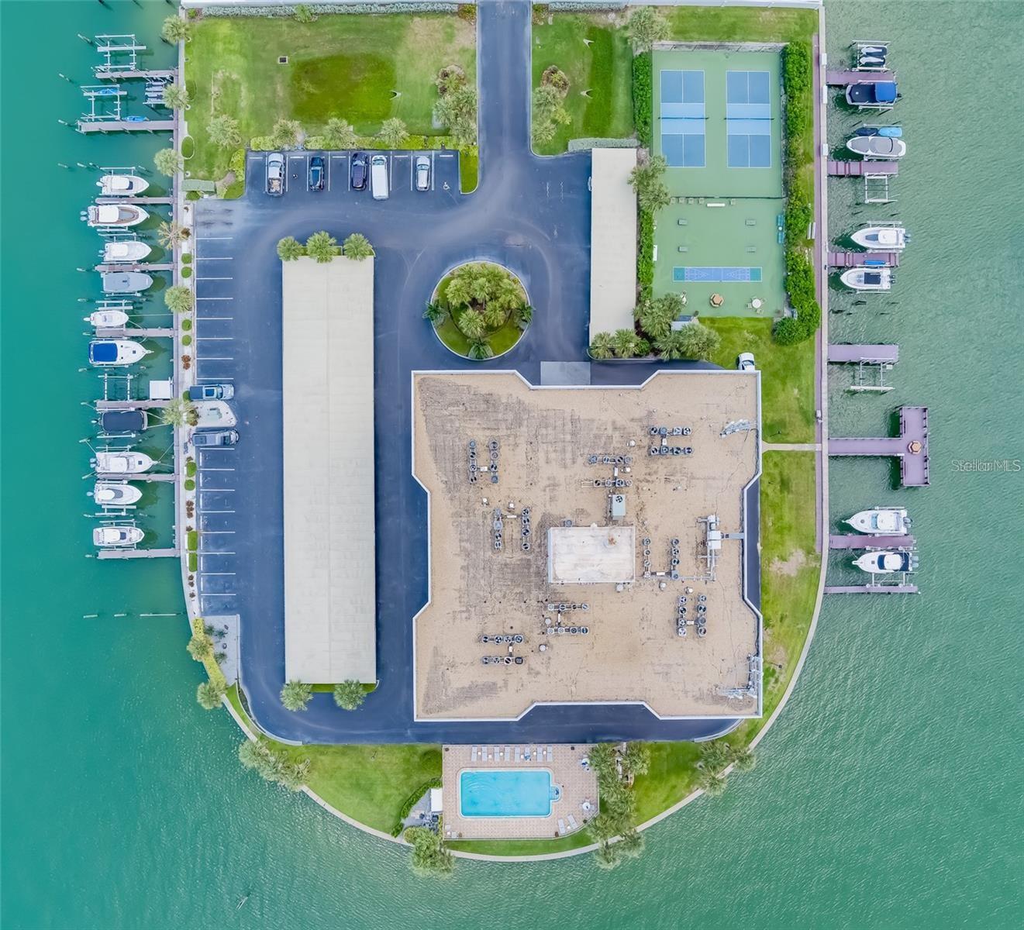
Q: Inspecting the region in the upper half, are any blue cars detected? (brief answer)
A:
Yes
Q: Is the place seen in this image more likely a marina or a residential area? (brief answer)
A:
marina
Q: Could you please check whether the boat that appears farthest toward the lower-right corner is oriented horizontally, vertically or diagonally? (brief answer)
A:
horizontally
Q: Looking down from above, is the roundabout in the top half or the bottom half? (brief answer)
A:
top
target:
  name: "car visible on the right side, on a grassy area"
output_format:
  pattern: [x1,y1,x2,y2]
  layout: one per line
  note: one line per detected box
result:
[737,353,755,371]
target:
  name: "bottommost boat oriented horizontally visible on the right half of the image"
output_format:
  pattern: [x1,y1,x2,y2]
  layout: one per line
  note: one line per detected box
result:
[852,550,918,573]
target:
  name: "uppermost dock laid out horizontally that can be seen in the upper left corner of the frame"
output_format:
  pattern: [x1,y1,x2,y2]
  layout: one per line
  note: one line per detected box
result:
[96,68,178,84]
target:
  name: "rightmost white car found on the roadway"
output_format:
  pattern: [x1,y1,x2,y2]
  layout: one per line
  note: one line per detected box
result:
[415,156,432,191]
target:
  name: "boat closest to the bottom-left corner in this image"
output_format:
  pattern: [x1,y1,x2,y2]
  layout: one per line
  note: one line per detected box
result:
[93,526,144,546]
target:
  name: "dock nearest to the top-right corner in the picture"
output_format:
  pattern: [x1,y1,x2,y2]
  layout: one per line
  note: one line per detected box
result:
[828,69,897,90]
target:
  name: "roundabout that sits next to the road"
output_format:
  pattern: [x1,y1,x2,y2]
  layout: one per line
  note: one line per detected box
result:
[431,260,531,360]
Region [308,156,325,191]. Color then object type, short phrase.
blue car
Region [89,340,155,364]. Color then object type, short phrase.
white boat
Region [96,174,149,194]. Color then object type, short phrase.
white boat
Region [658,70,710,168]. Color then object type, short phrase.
blue sports court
